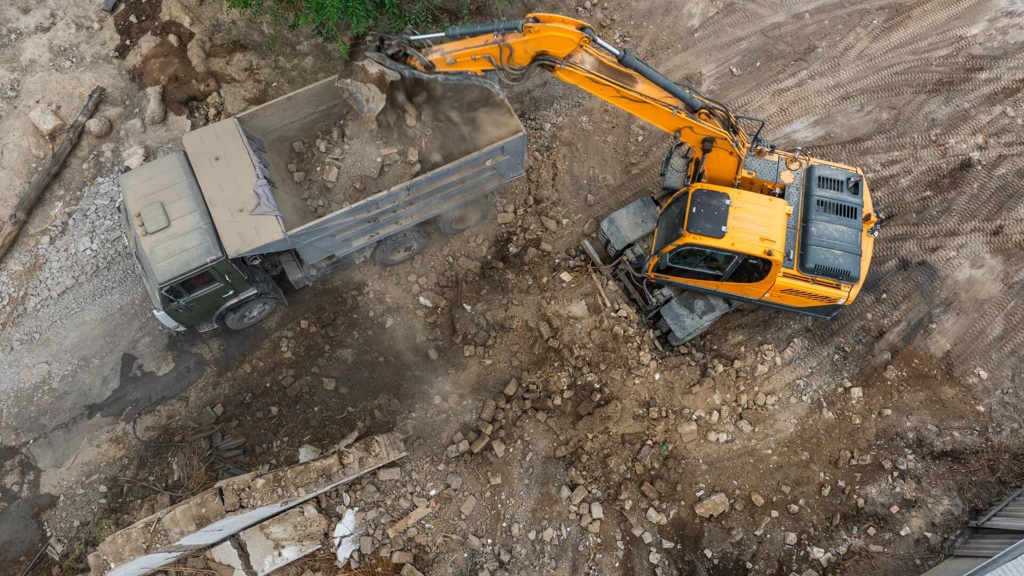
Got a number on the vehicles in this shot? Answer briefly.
2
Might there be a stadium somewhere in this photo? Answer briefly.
No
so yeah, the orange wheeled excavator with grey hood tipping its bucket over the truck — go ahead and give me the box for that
[340,4,895,351]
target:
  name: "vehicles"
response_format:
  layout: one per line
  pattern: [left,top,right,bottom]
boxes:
[108,69,526,346]
[340,4,895,351]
